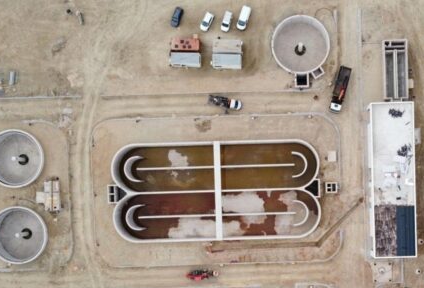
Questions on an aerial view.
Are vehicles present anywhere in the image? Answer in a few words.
Yes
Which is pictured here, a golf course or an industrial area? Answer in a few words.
industrial area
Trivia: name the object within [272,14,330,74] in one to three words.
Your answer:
storage tank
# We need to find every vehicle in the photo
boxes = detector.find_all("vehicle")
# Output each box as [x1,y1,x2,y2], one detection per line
[170,6,185,28]
[236,4,251,33]
[220,9,233,34]
[329,65,352,115]
[184,268,212,280]
[200,11,215,32]
[208,94,245,115]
